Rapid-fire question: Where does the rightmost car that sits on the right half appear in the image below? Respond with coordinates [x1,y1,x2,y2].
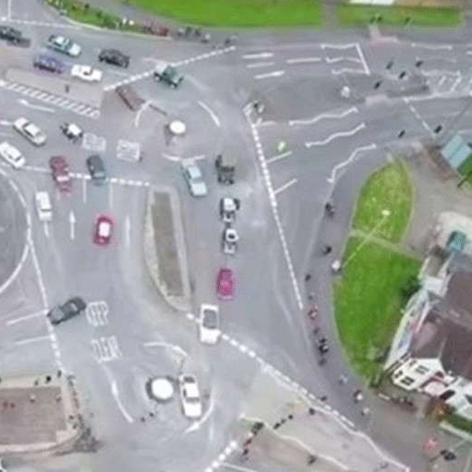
[444,227,471,255]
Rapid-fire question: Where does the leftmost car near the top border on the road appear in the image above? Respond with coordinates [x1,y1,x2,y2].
[0,24,33,48]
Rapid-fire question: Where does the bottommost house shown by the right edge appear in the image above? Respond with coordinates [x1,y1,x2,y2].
[392,277,472,426]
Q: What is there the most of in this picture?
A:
paved ground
